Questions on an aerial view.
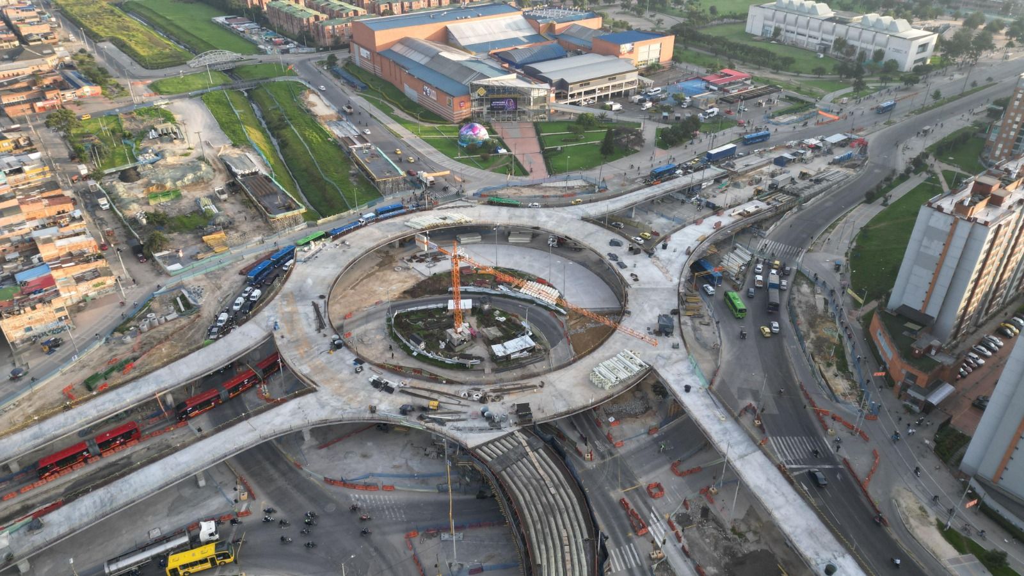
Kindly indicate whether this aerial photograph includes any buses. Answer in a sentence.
Yes, a bus appears in the view.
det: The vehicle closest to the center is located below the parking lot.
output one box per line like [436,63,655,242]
[545,237,576,253]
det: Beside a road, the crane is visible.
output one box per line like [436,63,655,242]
[410,235,660,350]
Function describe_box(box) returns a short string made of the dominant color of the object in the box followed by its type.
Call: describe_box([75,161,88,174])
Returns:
white vehicle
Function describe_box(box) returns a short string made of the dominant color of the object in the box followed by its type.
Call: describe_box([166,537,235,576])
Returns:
yellow bus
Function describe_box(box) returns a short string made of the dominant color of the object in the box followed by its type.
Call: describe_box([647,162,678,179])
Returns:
blue vehicle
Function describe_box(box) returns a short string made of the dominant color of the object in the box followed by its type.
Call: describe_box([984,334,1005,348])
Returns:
gray car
